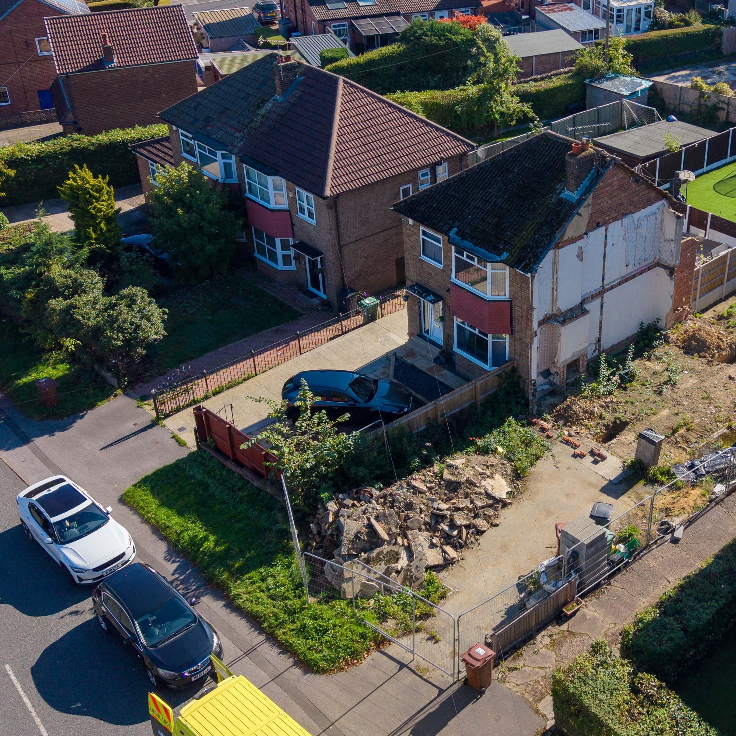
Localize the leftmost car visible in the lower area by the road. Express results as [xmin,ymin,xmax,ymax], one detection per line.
[15,480,133,587]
